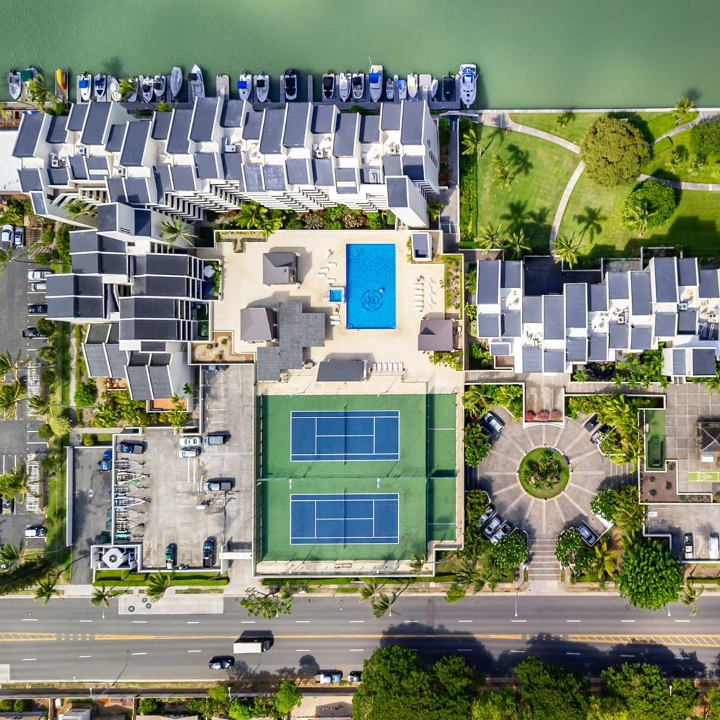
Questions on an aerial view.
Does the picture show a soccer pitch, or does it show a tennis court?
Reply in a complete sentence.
The one in the frame is a tennis court.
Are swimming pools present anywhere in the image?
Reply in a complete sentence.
Yes, there is a swimming pool in the image.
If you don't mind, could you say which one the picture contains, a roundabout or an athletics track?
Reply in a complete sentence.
The image shows a roundabout.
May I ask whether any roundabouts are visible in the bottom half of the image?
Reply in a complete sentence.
Yes, a roundabout appears in the bottom half of the image.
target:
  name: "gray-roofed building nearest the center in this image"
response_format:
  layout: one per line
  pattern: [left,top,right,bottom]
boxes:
[316,361,371,381]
